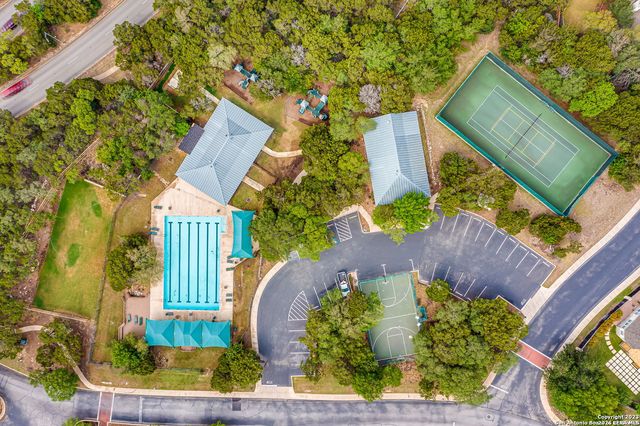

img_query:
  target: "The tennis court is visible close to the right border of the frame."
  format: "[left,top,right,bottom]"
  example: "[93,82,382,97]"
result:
[436,56,611,212]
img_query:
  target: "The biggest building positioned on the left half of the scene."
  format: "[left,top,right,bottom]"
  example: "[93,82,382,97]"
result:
[175,97,274,206]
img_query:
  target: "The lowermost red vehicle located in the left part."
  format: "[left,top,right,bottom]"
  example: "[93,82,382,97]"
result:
[1,77,26,98]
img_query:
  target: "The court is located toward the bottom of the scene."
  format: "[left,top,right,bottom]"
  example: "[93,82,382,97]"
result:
[359,271,426,364]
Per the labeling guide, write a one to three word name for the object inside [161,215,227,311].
swimming pool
